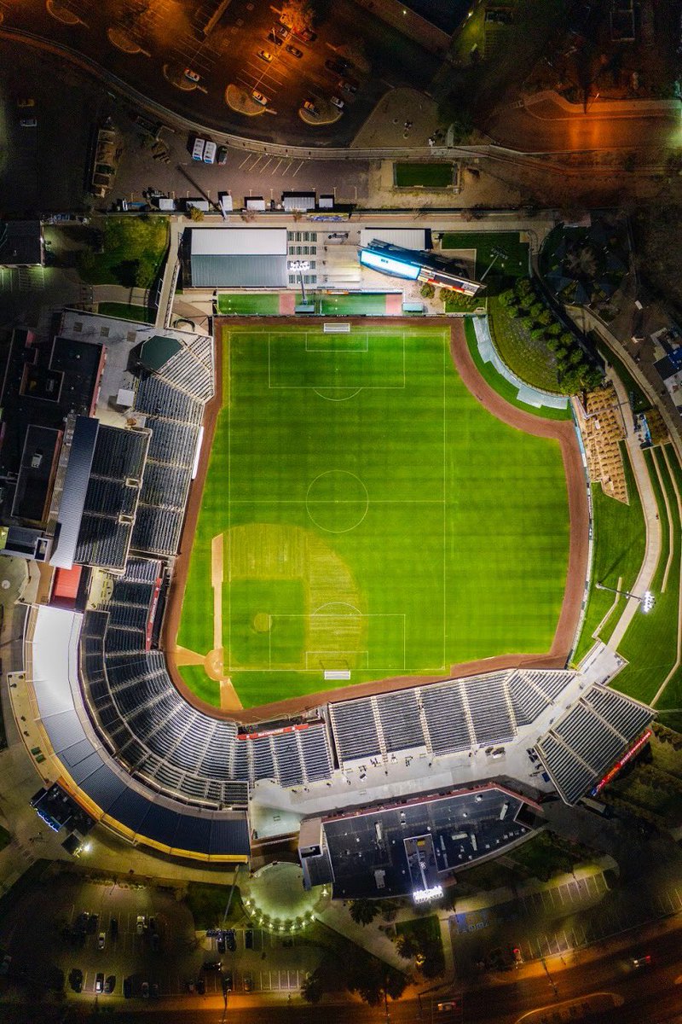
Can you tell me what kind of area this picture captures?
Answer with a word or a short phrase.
sports ground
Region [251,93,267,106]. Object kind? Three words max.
vehicle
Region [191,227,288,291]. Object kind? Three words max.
building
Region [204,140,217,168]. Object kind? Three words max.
vehicle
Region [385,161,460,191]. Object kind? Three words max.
sports field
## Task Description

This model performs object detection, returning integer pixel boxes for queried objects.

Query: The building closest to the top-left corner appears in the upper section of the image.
[0,219,49,273]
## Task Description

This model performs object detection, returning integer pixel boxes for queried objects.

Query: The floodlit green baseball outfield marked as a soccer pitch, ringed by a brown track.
[163,317,589,723]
